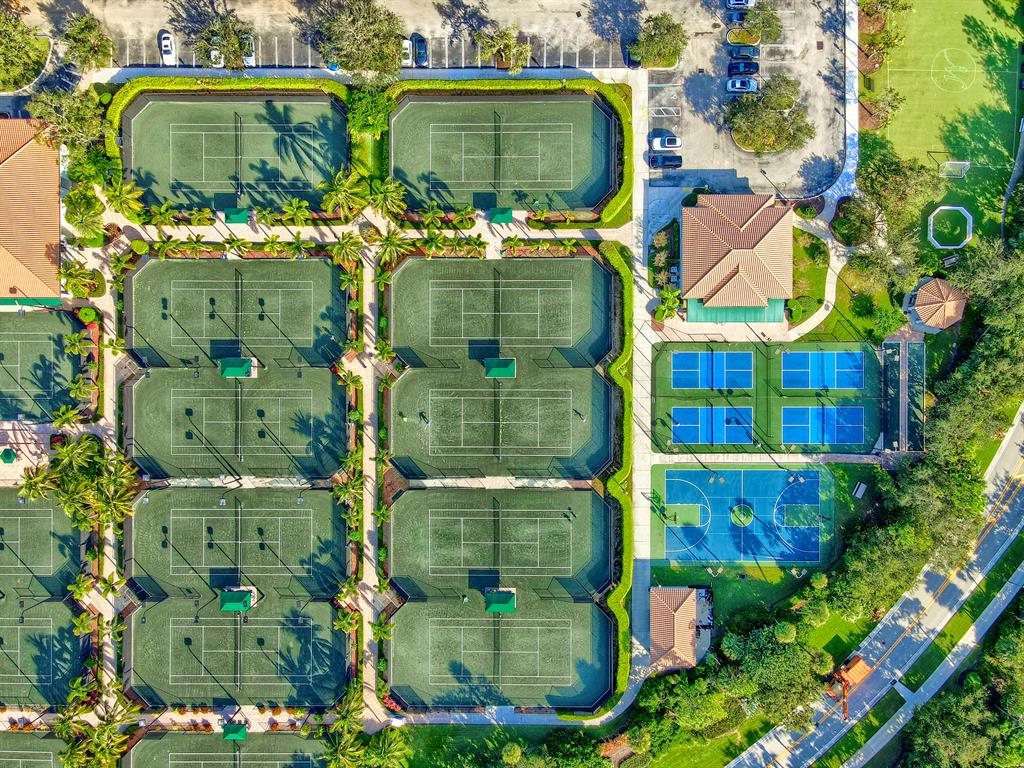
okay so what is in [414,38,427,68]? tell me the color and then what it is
blue vehicle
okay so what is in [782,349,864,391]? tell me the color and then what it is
blue sports court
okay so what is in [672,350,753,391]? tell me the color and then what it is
blue sports court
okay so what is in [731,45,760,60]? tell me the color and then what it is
blue car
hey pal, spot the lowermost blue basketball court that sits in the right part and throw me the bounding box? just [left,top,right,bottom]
[651,464,834,567]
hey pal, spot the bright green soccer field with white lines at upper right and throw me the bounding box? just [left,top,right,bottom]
[863,0,1024,205]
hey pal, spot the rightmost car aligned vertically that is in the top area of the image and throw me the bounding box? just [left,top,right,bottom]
[628,40,641,69]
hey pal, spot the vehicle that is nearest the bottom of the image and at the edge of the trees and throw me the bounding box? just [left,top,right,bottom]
[824,655,873,721]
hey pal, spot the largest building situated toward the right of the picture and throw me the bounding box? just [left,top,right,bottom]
[681,194,793,322]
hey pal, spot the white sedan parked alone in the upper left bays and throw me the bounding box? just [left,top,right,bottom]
[160,34,176,65]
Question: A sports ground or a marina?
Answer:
sports ground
